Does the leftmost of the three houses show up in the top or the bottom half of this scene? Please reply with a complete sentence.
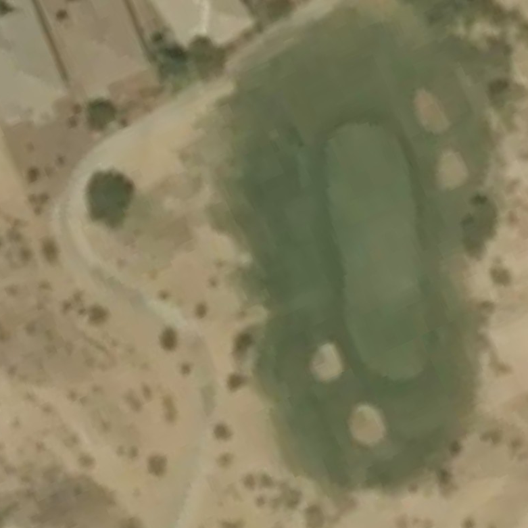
It is in the top half that the leftmost of the three houses appears.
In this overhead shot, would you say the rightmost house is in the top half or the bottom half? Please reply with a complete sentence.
The rightmost house sits in the top half of the picture.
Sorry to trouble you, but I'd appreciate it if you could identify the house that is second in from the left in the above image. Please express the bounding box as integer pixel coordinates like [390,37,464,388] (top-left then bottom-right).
[43,0,147,93]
